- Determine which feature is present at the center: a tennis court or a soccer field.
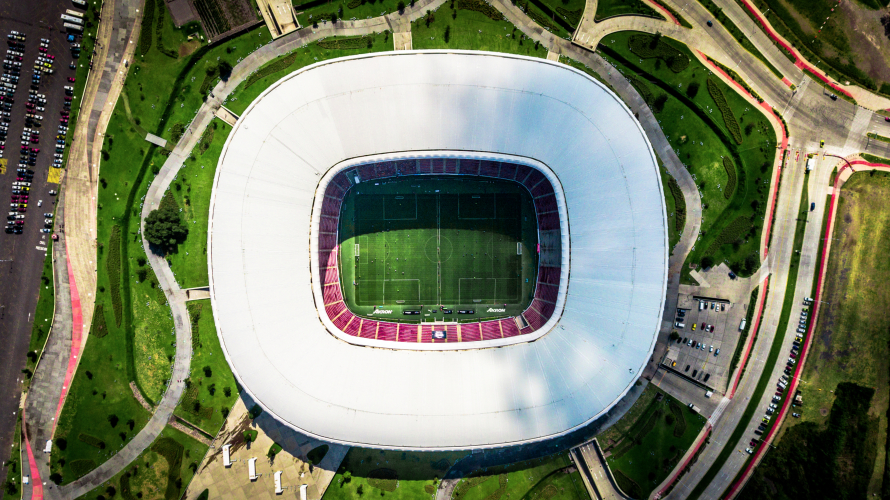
soccer field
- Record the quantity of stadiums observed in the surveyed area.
1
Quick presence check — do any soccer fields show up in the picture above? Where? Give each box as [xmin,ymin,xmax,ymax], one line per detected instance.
[340,176,538,324]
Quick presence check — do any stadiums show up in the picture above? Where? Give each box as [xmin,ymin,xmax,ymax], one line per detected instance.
[209,50,668,450]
